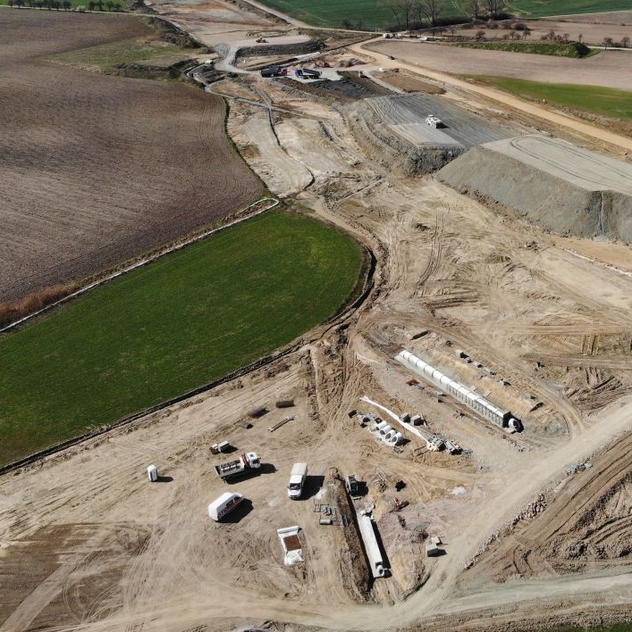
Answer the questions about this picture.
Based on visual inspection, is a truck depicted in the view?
Yes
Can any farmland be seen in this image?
Yes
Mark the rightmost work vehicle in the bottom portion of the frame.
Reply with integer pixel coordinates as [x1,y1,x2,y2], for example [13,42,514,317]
[346,471,361,494]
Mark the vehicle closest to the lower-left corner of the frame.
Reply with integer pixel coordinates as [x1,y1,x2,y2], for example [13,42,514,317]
[203,487,249,523]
